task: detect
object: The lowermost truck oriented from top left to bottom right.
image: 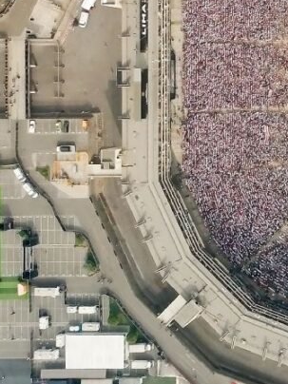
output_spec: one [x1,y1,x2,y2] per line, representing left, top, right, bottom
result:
[17,181,41,202]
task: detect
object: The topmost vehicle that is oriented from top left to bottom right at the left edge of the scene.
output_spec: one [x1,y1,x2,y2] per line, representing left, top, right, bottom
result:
[7,164,30,184]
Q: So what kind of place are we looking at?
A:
sports ground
